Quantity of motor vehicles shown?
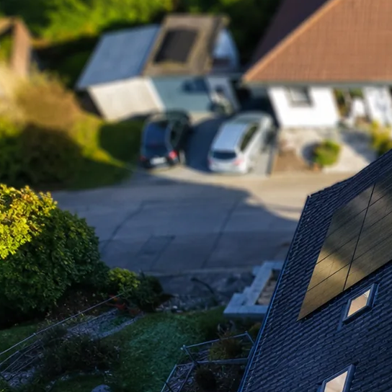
2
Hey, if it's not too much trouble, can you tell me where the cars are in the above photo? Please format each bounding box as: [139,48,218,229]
[146,101,212,160]
[208,100,282,170]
